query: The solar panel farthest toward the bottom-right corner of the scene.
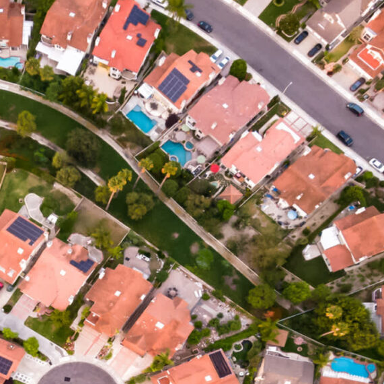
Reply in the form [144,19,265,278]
[209,348,232,377]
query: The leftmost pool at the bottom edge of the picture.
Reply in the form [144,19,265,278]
[231,338,253,368]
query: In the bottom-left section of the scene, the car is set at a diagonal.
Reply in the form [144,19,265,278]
[2,280,19,295]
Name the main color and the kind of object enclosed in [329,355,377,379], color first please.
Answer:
blue swimming pool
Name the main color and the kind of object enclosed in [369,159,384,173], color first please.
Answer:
white car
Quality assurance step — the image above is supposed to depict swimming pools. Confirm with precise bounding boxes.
[160,138,195,167]
[0,56,25,71]
[329,355,377,379]
[125,104,159,135]
[231,338,253,368]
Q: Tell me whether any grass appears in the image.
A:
Yes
